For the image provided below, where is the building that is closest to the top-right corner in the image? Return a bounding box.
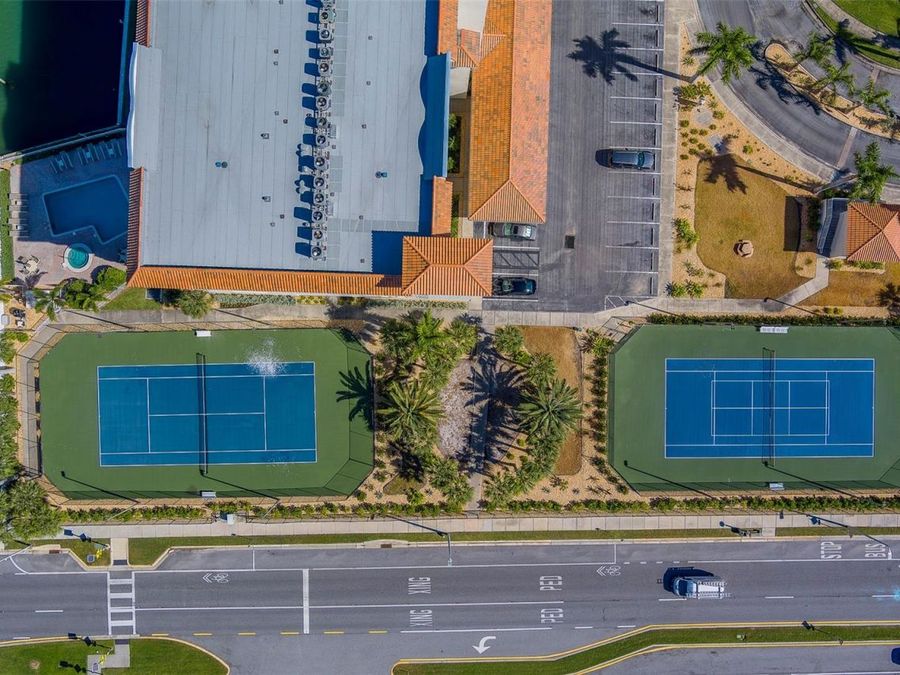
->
[830,201,900,264]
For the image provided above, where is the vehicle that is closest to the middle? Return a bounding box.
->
[492,275,536,295]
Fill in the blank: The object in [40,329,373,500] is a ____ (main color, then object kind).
green tennis court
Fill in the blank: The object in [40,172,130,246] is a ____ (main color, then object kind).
blue swimming pool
